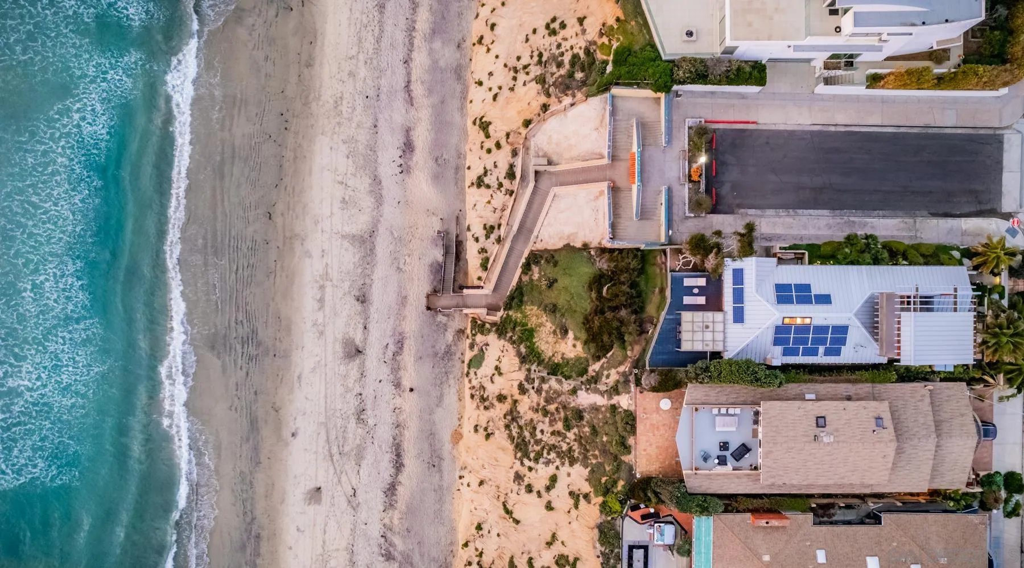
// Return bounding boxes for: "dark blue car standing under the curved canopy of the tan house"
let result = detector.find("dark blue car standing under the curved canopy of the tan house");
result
[979,420,996,441]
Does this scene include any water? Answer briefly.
Yes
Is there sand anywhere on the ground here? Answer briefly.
Yes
